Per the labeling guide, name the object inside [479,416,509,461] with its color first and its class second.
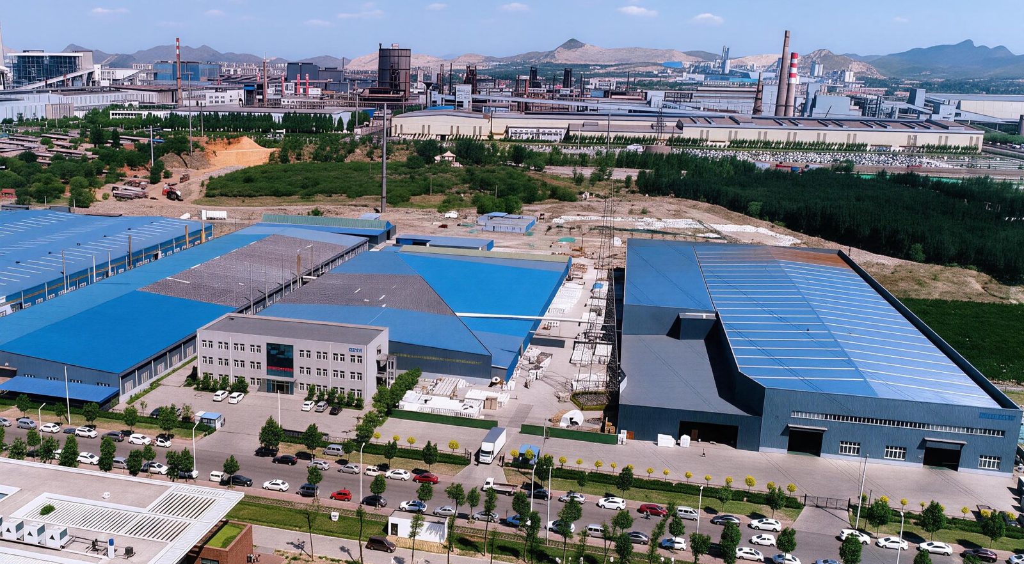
white truck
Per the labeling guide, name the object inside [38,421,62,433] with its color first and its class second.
white vehicle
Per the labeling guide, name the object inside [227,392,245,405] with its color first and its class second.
white vehicle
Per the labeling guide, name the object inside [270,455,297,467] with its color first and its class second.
black vehicle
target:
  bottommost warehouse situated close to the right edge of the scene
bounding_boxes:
[695,242,1024,481]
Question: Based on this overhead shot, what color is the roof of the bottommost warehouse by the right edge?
blue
